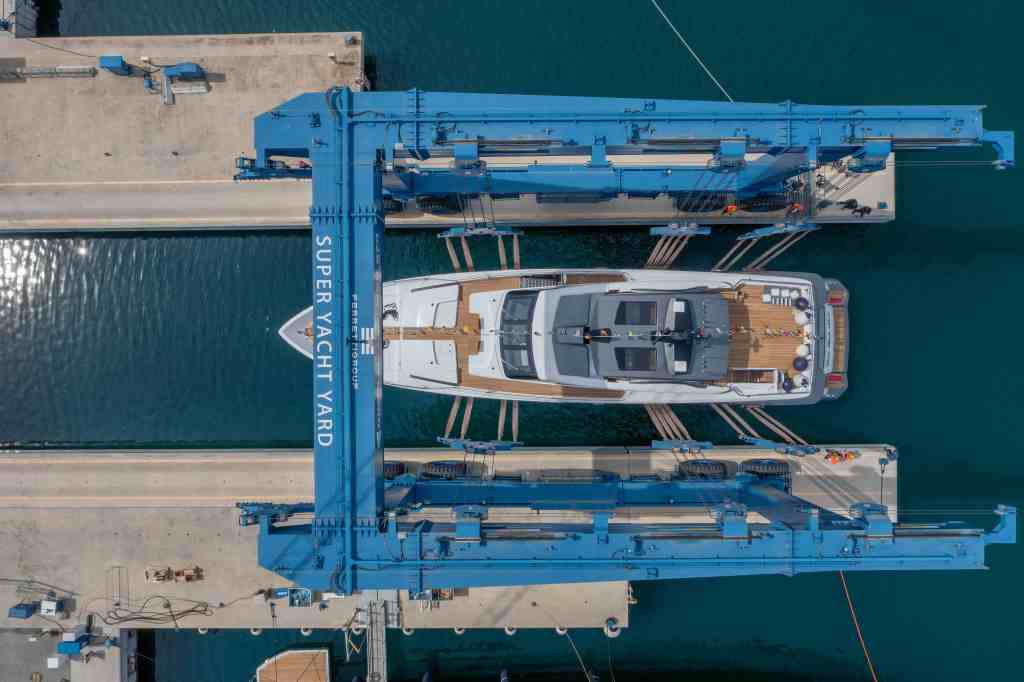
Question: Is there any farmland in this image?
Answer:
No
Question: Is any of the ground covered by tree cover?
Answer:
No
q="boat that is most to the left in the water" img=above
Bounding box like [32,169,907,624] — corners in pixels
[256,640,333,682]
